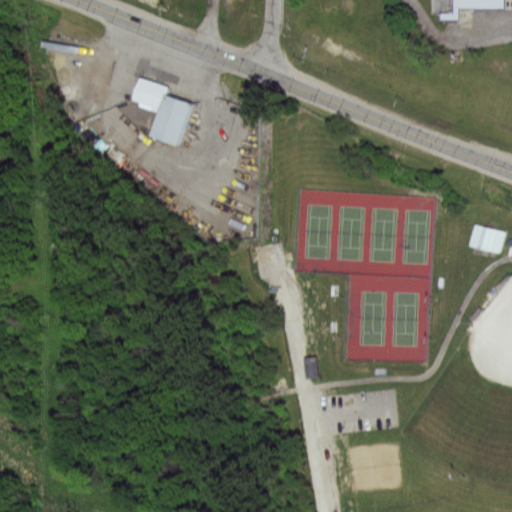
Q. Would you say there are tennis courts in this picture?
Yes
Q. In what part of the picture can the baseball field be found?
bottom right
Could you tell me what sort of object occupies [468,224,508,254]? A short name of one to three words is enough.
shed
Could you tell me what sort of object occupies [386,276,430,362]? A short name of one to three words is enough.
tennis court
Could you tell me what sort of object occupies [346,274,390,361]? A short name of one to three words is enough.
tennis court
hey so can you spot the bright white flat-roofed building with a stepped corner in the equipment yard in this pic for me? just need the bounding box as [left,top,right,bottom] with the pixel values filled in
[132,76,170,113]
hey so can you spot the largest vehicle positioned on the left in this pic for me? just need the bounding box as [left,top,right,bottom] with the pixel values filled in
[39,42,91,54]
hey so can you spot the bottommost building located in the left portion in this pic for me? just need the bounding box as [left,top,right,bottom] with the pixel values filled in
[150,96,194,146]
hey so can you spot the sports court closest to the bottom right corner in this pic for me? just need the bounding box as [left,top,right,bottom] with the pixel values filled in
[350,444,402,490]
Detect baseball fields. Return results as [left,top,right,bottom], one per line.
[400,274,512,485]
